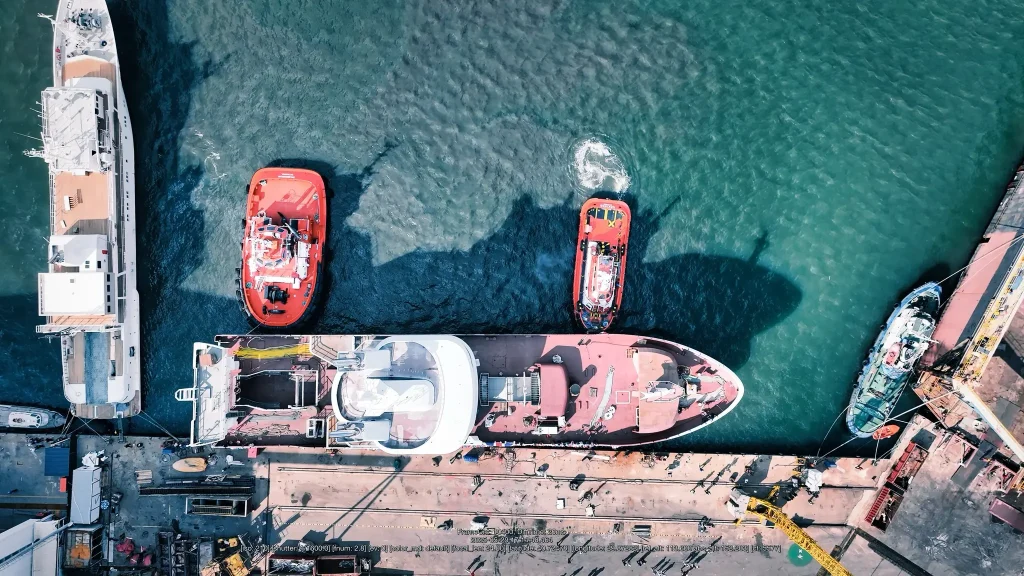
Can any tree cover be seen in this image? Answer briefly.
No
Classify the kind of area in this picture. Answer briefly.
port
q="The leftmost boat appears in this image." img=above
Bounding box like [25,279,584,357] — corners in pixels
[0,404,72,428]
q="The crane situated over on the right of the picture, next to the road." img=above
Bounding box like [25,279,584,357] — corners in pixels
[724,482,866,576]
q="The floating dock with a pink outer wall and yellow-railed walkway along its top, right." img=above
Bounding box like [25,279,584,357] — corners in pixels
[905,167,1024,430]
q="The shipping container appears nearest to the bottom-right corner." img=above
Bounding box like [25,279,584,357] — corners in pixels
[982,495,1024,527]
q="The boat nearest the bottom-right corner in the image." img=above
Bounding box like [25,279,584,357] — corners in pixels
[873,425,900,439]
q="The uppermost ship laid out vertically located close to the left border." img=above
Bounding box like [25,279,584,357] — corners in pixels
[20,0,148,438]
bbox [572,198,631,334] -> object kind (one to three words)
boat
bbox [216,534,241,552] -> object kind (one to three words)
work vehicle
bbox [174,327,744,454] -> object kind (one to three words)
ship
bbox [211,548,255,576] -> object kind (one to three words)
work vehicle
